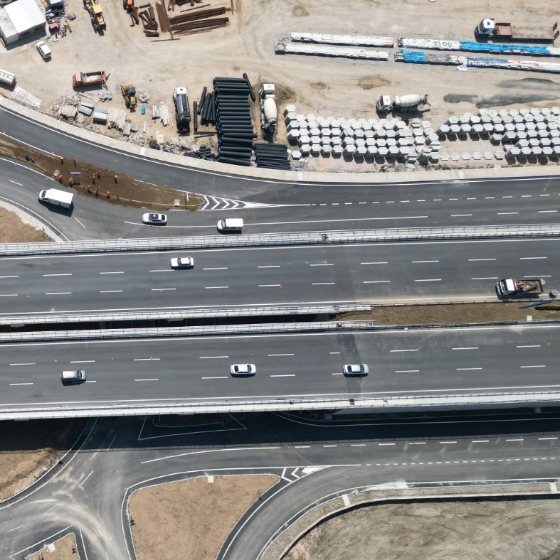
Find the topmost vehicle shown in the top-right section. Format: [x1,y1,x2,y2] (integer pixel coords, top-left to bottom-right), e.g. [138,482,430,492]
[470,20,560,41]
